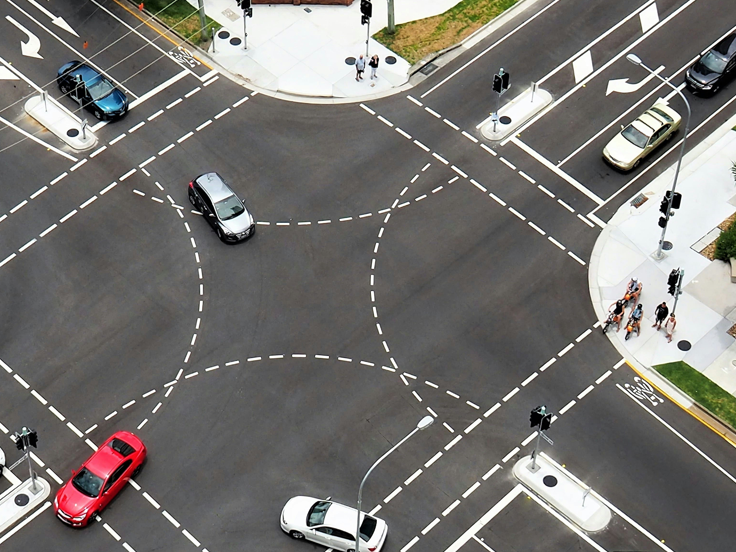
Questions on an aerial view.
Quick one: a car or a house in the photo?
car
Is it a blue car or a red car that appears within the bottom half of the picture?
red car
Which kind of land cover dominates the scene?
paved ground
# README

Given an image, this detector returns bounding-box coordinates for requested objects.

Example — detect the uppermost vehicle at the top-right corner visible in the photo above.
[683,30,736,95]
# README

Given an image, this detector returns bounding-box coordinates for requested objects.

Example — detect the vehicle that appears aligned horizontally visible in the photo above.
[277,495,391,552]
